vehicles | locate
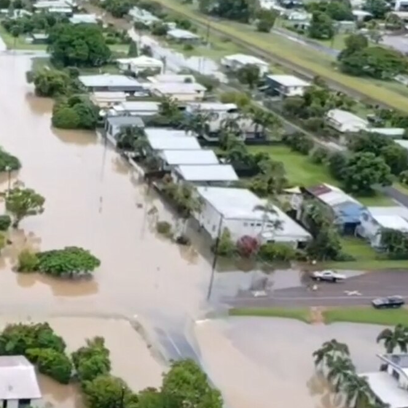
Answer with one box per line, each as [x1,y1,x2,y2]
[370,294,407,308]
[312,269,345,282]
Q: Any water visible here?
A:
Yes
